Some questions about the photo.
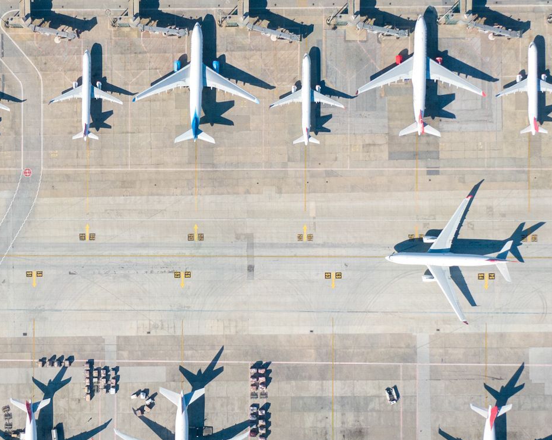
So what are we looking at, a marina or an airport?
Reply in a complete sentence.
The picture captures an airport.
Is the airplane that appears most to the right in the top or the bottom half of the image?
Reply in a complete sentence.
Seen from above, the airplane that appears most to the right lies in the top half of the view.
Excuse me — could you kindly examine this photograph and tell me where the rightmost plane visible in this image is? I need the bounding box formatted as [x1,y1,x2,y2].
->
[497,42,552,135]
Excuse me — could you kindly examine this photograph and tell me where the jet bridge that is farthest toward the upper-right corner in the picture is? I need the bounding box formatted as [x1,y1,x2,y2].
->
[466,21,523,39]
